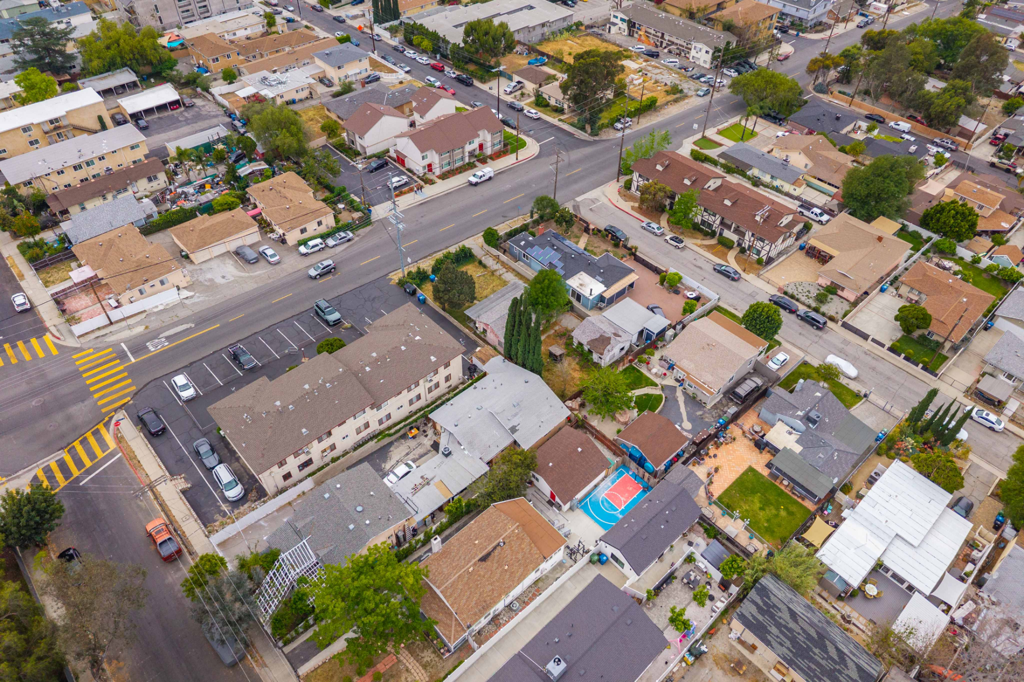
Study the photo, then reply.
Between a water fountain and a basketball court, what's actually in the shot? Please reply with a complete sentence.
Looking from above, you can make out a basketball court.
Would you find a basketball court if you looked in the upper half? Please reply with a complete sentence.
No, I can find no basketball court in the upper half.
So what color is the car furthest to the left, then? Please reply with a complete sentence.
The car furthest to the left is white.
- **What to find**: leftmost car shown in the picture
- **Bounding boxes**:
[10,292,31,314]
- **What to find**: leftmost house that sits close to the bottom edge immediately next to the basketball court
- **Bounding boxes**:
[420,499,568,651]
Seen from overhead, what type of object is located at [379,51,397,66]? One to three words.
car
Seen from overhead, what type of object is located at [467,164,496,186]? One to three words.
vehicle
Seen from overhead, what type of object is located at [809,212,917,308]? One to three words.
house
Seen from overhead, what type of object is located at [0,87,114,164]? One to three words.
building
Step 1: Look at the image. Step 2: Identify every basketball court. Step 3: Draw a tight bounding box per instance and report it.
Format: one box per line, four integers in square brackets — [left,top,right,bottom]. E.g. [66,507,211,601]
[579,465,651,531]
